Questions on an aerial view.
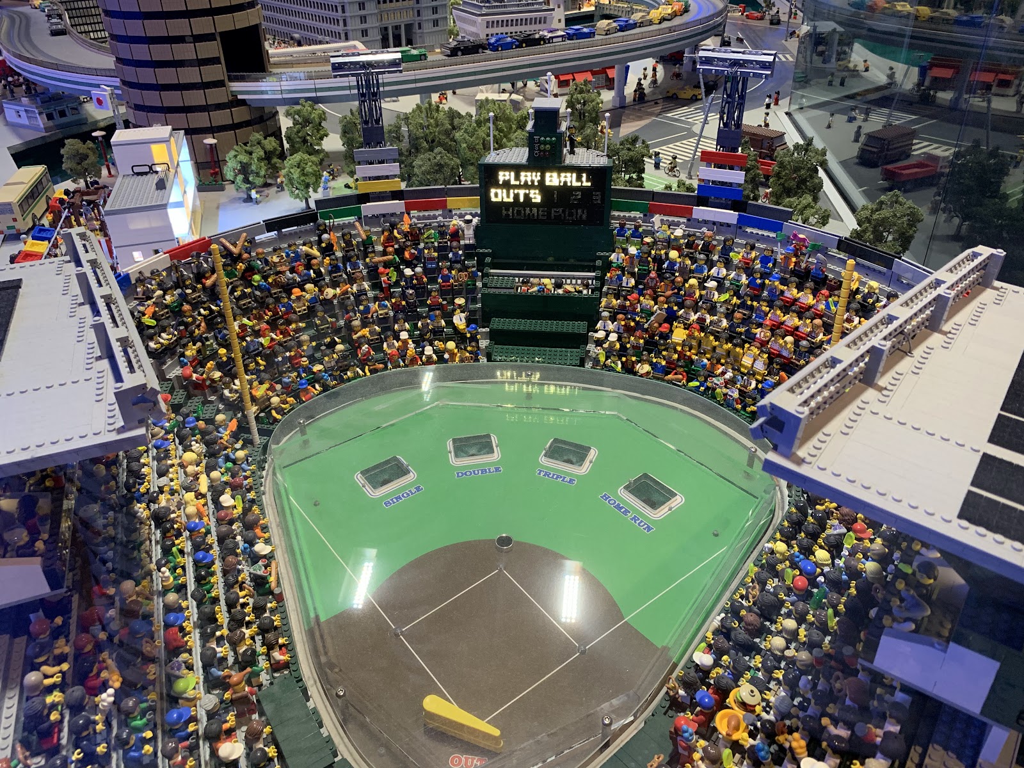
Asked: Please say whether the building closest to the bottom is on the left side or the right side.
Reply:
left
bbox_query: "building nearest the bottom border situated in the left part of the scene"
[100,126,213,277]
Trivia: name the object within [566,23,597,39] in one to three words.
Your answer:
car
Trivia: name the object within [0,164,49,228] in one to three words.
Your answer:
bus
